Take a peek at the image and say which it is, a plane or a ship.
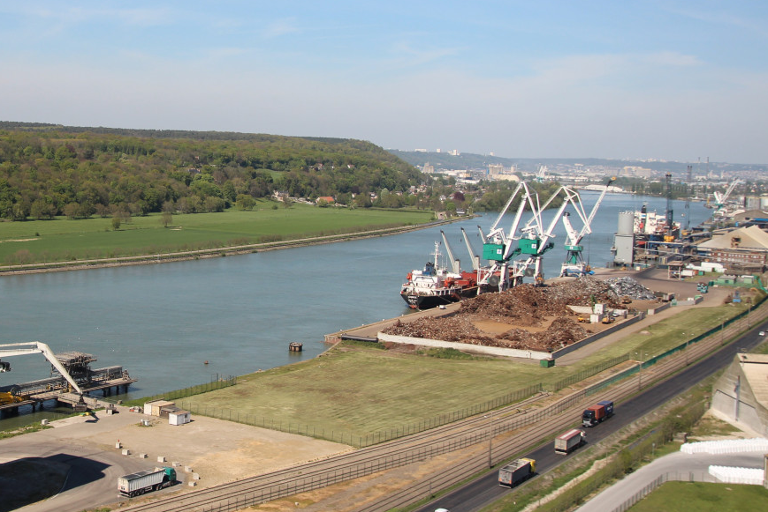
ship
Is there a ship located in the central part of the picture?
Yes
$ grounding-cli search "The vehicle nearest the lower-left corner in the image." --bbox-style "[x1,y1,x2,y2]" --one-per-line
[123,465,182,495]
